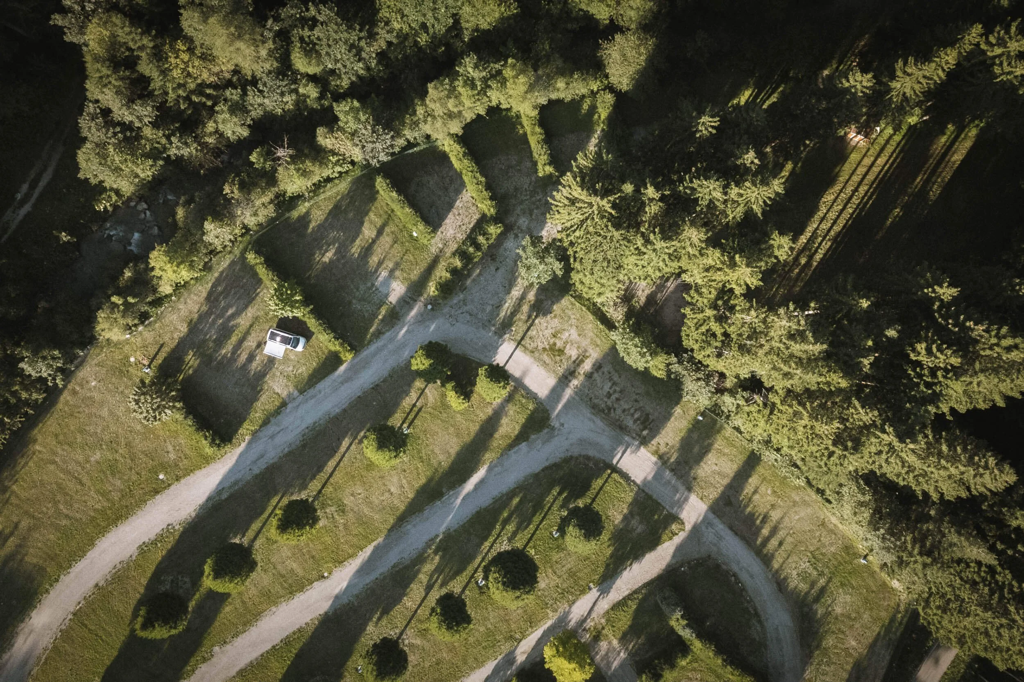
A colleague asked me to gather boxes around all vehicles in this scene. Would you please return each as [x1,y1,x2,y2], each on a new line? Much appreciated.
[259,326,308,359]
